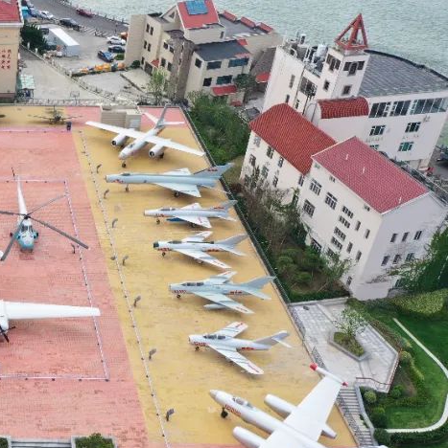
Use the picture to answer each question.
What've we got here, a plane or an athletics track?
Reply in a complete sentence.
Looking from above, you can make out a plane.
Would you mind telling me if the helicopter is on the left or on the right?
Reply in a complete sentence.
The helicopter appears in the left half of the scene.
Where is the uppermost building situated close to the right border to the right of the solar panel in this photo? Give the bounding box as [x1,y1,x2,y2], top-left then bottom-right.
[303,11,448,170]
